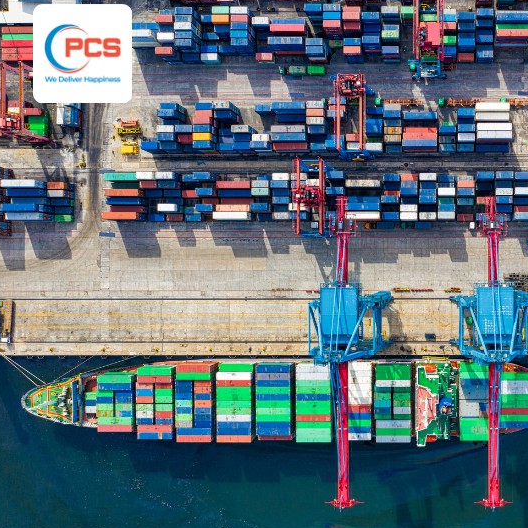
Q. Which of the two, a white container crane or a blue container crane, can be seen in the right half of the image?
blue container crane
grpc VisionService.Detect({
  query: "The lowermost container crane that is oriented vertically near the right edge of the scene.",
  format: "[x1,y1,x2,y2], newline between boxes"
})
[449,191,528,514]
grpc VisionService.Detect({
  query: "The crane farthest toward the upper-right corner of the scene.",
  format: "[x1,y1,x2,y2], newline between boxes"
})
[409,0,450,77]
